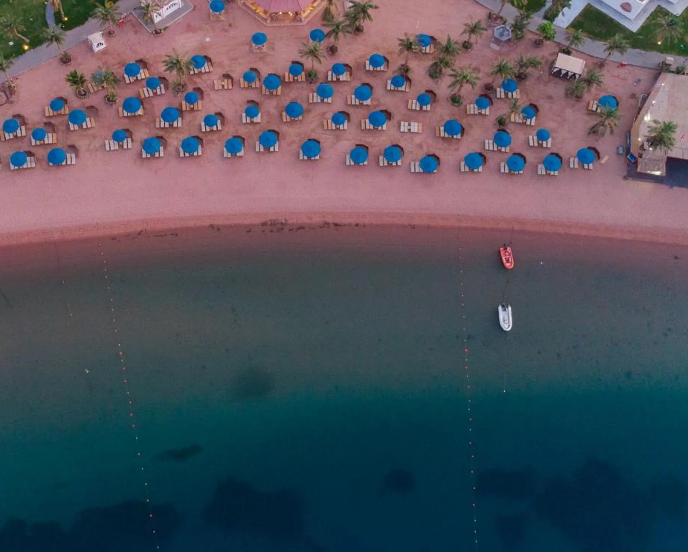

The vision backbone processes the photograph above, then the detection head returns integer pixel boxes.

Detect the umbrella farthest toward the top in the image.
[209,0,225,13]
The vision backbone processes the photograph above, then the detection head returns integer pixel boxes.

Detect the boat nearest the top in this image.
[500,245,514,270]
